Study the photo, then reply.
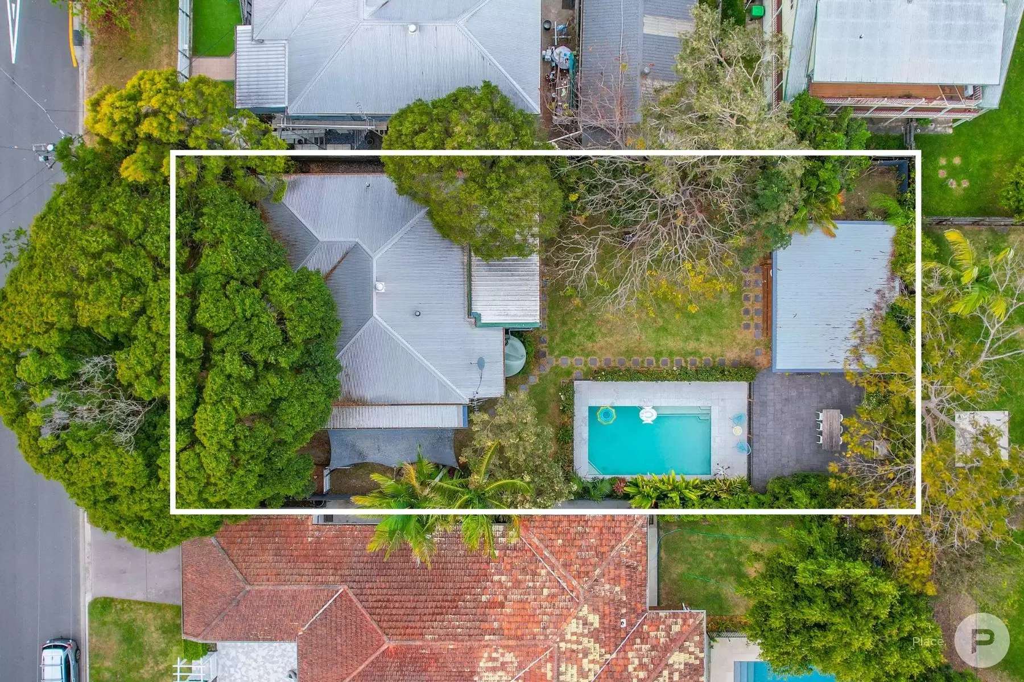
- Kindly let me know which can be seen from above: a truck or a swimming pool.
swimming pool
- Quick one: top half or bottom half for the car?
bottom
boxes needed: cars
[35,634,87,682]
